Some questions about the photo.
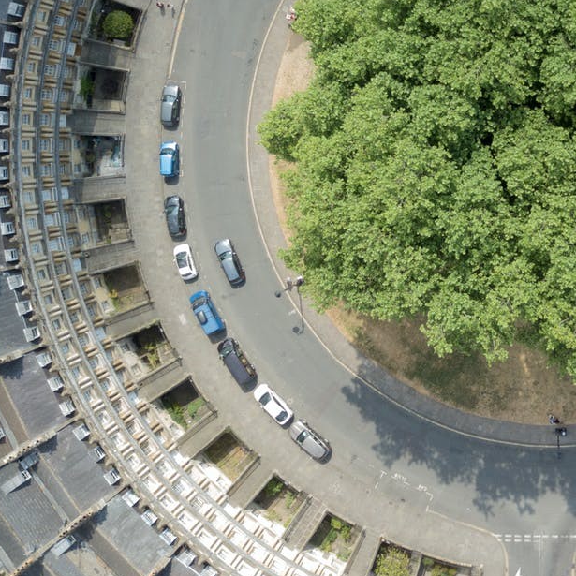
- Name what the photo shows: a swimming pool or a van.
van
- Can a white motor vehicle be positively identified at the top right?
No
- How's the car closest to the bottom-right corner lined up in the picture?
at an angle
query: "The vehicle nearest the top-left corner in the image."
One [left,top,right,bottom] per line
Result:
[159,82,183,126]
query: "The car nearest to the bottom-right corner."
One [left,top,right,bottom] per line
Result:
[290,420,334,460]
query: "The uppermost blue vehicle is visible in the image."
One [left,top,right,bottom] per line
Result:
[157,140,180,179]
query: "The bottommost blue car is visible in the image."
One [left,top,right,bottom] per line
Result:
[190,290,225,337]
